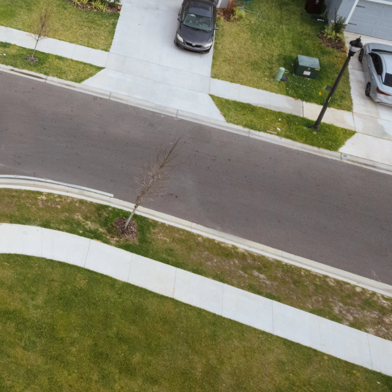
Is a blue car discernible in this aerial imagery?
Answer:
No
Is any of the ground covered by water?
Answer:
No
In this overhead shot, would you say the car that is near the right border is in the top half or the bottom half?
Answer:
top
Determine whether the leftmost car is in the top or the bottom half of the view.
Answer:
top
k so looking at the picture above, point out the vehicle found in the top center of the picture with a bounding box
[177,0,228,49]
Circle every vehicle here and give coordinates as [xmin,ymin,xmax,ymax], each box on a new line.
[358,40,392,105]
[177,0,228,49]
